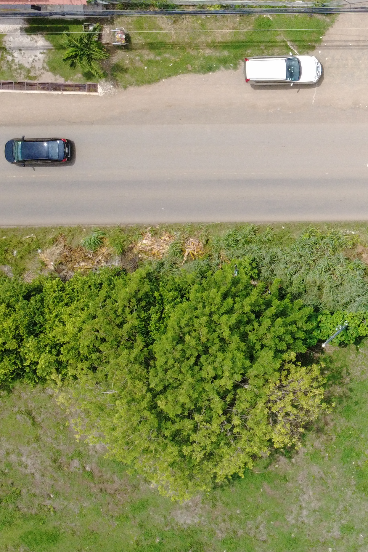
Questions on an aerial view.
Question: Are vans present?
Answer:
Yes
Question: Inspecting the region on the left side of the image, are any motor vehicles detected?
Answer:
Yes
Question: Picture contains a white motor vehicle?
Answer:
Yes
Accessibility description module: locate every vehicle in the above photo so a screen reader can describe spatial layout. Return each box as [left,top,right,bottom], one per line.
[248,52,325,88]
[2,134,68,168]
